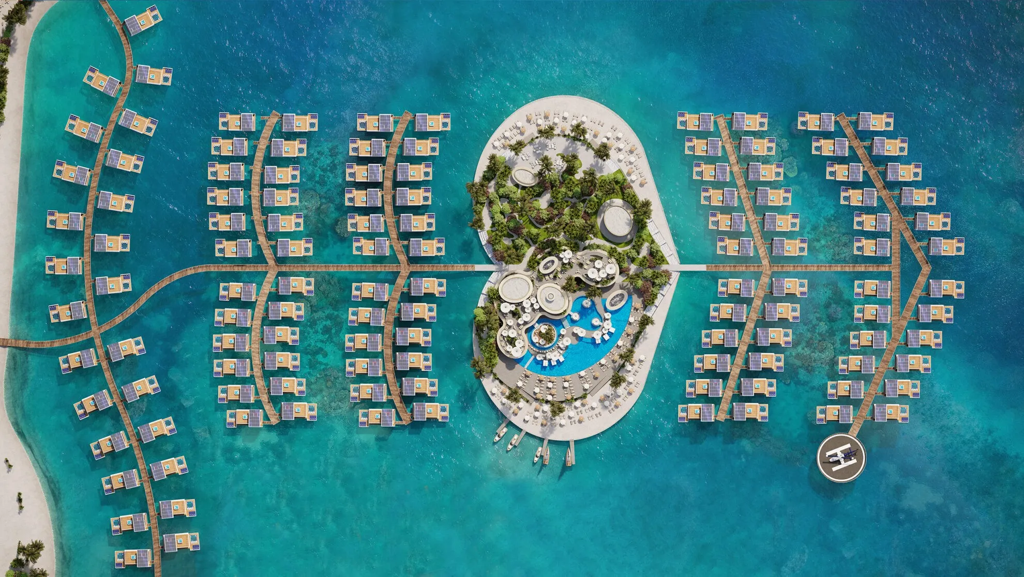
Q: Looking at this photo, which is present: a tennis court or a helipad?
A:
helipad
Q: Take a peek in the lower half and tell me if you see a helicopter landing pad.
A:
Yes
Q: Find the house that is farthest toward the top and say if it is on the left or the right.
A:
left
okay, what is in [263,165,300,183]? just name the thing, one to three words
house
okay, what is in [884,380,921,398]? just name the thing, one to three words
house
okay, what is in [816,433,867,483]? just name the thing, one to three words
helipad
